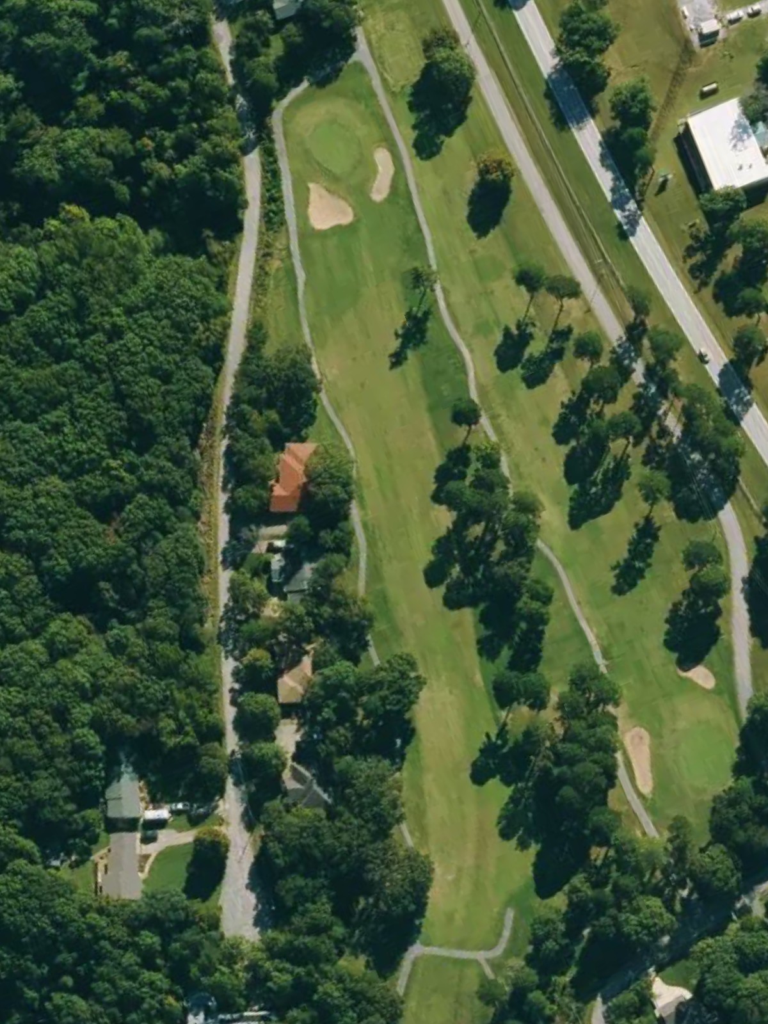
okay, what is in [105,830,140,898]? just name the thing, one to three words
house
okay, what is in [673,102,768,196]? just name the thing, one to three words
building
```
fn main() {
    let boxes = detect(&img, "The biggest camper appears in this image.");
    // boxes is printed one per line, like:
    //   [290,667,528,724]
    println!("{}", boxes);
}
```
[145,810,173,822]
